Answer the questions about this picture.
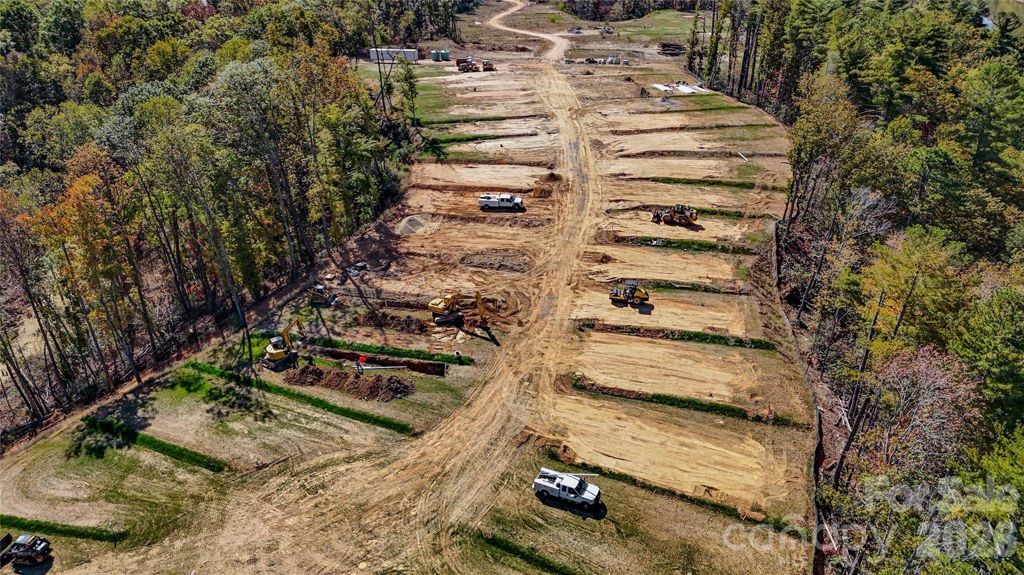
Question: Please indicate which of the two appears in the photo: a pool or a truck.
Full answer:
This aerial view contains a truck.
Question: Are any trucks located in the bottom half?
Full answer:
Yes, in the bottom half there is a truck.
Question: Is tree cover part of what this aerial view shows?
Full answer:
Yes, some tree cover is visible.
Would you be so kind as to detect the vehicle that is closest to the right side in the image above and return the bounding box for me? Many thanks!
[648,195,695,222]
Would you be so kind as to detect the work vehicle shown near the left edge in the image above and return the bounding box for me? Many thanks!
[1,526,54,570]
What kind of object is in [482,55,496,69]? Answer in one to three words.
work vehicle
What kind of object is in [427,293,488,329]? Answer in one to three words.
work vehicle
